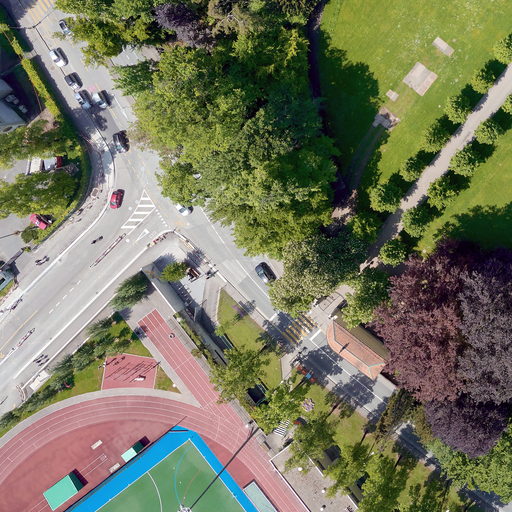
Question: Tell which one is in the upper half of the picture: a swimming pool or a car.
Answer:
car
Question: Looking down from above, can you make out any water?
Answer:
No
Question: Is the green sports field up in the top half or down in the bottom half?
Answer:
bottom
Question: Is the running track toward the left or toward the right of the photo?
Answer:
left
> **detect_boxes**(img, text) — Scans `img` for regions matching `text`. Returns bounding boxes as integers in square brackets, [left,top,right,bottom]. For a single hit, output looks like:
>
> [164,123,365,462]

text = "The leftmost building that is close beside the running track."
[142,260,193,316]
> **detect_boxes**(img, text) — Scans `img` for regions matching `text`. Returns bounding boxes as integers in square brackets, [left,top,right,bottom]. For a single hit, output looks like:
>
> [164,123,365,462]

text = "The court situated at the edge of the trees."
[102,353,156,390]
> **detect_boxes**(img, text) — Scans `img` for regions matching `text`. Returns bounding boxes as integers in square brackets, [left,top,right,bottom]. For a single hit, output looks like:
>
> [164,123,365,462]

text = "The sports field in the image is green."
[62,424,258,512]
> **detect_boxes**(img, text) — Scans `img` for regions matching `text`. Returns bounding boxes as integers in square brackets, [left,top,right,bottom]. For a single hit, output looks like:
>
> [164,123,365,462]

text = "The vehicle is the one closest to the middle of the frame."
[254,260,272,282]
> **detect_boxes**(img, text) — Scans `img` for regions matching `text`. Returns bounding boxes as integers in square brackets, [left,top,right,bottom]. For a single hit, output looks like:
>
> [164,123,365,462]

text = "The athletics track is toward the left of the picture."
[0,310,304,512]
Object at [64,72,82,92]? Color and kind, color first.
gray car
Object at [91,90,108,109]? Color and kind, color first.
white car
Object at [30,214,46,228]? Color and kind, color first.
red car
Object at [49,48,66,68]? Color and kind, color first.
white car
